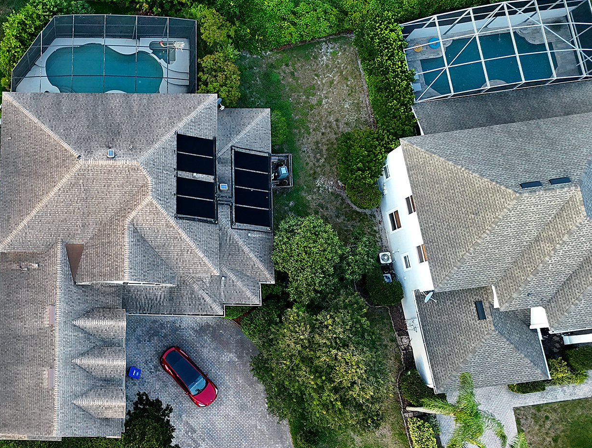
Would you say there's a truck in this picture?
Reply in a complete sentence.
No, the picture doesn't show any truck.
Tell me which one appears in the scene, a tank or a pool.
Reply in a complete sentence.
The one in the frame is a pool.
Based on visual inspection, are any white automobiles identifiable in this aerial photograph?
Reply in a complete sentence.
No, the scene contains no white automobile.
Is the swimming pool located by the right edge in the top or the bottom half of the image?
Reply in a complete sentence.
You can find the swimming pool located by the right edge in the top half.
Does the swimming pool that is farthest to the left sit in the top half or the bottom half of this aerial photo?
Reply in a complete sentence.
The top half of the photo is where the swimming pool that is farthest to the left is.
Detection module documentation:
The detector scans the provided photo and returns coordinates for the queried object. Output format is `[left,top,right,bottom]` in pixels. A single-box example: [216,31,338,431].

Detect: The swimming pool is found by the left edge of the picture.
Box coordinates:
[17,35,192,94]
